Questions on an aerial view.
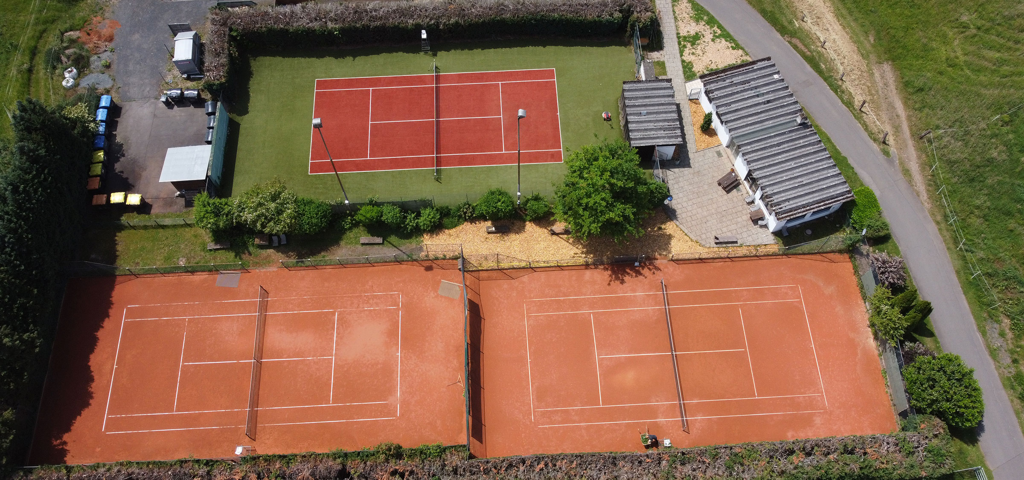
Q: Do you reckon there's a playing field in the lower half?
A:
No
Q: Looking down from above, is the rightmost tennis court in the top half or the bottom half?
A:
bottom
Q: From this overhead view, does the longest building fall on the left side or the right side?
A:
right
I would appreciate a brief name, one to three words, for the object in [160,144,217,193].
shed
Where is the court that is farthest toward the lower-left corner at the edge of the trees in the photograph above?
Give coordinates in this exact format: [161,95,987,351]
[14,260,469,480]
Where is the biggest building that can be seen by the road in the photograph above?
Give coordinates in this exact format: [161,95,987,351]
[701,57,853,232]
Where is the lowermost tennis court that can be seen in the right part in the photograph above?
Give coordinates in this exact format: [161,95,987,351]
[463,254,897,480]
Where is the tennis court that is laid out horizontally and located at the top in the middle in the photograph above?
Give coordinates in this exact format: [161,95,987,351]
[223,30,662,210]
